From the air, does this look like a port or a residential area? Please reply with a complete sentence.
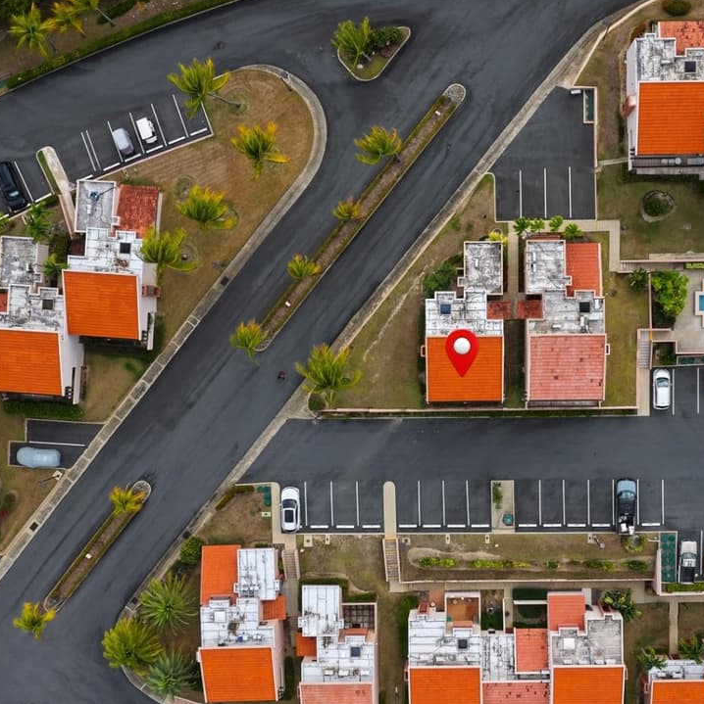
It's a residential area.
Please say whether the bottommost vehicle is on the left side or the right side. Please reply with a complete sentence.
The bottommost vehicle is on the right side of the image.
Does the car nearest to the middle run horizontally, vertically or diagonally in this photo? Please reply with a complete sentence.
The car nearest to the middle is laid out vertically.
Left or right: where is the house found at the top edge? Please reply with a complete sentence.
It is on the right.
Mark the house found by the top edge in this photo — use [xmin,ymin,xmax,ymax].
[627,22,704,175]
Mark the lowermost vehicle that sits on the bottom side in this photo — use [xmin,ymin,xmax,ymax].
[679,537,699,583]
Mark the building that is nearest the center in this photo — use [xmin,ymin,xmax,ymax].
[420,242,512,409]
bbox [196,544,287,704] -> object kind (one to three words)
house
